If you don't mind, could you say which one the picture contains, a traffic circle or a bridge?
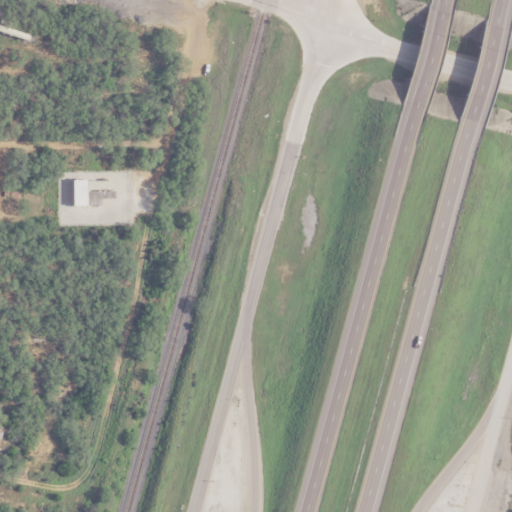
bridge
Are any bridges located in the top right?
Yes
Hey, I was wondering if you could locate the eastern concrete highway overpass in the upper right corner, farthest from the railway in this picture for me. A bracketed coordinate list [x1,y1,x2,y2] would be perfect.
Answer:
[462,9,512,131]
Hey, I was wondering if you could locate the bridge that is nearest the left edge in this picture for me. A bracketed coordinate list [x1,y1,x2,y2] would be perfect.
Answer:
[402,0,458,118]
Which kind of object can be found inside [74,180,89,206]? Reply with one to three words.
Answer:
shed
